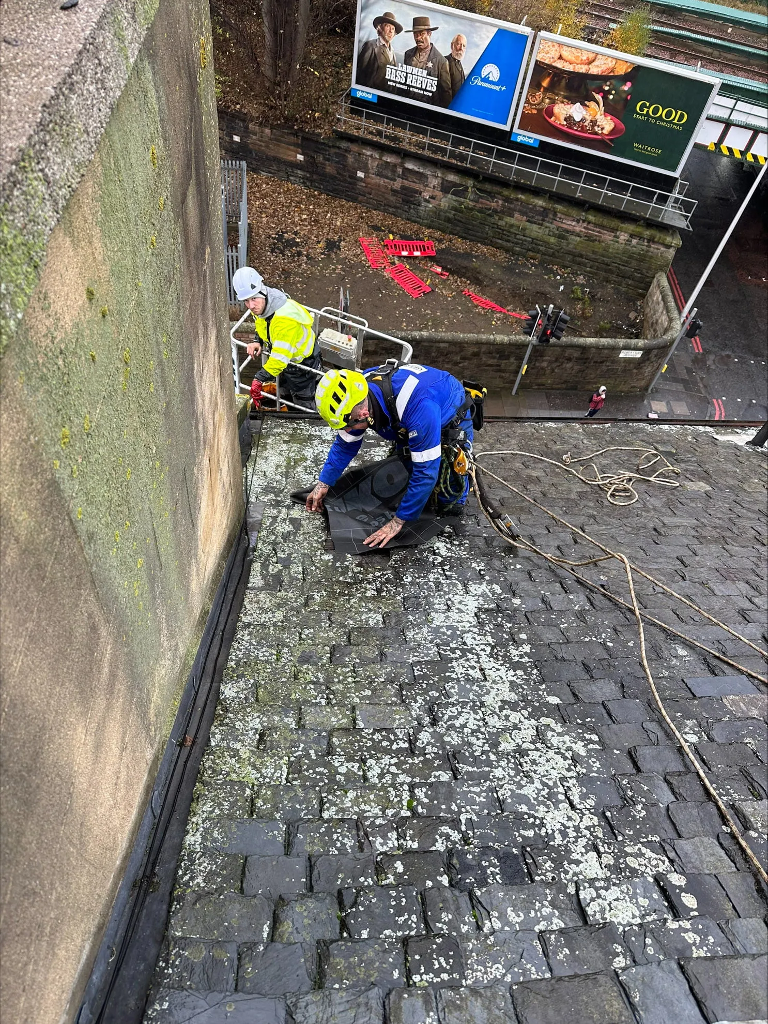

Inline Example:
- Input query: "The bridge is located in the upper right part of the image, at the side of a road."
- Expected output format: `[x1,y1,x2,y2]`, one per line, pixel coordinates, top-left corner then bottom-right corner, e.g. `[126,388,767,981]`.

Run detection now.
[527,0,768,277]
